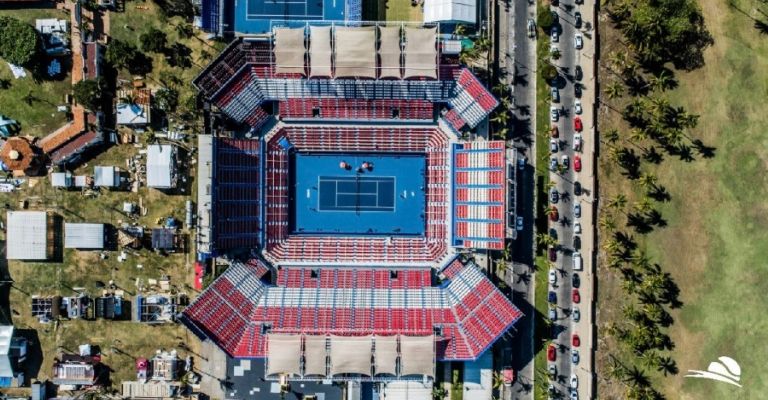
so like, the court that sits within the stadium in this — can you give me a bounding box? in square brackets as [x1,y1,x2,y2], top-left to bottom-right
[290,152,426,236]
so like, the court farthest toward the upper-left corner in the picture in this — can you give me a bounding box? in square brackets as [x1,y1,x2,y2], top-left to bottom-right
[233,0,334,33]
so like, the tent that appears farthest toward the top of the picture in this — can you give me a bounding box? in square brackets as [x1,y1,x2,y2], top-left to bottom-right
[424,0,478,24]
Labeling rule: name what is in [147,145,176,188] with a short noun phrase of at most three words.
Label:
tent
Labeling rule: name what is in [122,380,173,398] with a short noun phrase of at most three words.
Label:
shed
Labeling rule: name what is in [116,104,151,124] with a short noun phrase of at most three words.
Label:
house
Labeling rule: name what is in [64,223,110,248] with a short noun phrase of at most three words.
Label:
building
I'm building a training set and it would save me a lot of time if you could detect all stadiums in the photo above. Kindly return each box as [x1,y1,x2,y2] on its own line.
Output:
[182,20,522,382]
